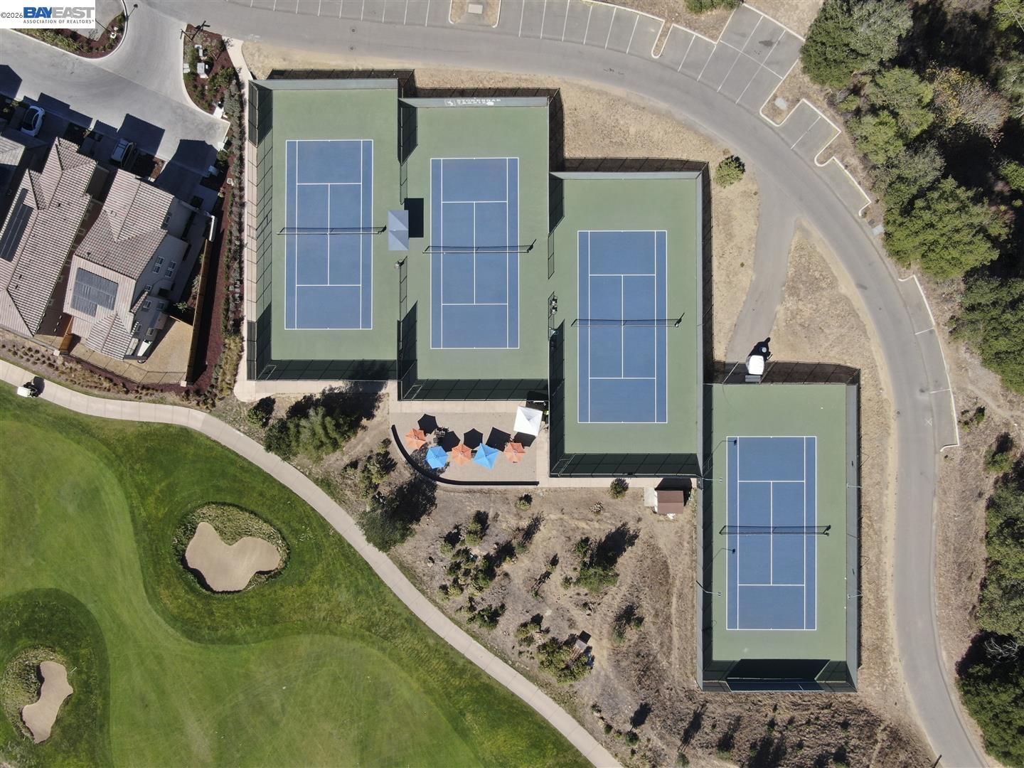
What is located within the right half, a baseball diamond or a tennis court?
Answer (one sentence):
You can see a tennis court within the right half.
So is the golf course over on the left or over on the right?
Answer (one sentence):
The golf course sits on the left side.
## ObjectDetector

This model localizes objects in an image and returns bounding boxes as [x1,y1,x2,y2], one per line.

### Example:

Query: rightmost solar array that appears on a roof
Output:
[68,269,116,317]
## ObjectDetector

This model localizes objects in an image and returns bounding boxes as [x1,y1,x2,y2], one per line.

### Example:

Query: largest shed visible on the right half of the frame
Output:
[654,489,685,514]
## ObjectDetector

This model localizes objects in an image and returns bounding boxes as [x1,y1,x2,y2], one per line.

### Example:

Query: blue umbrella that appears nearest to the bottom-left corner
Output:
[425,446,448,468]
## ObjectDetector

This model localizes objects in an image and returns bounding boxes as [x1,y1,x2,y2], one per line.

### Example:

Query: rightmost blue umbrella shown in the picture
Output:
[474,444,499,469]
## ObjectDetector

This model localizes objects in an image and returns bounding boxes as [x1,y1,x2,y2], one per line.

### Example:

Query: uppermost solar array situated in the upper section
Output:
[0,193,32,264]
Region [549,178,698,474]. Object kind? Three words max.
tennis court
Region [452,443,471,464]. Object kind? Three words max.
umbrella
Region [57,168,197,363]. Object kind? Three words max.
house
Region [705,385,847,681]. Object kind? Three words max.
tennis court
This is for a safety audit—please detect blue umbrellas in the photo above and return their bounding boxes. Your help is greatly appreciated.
[474,444,499,469]
[425,446,448,468]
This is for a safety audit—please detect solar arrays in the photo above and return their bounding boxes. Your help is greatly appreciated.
[0,193,32,264]
[68,269,116,317]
